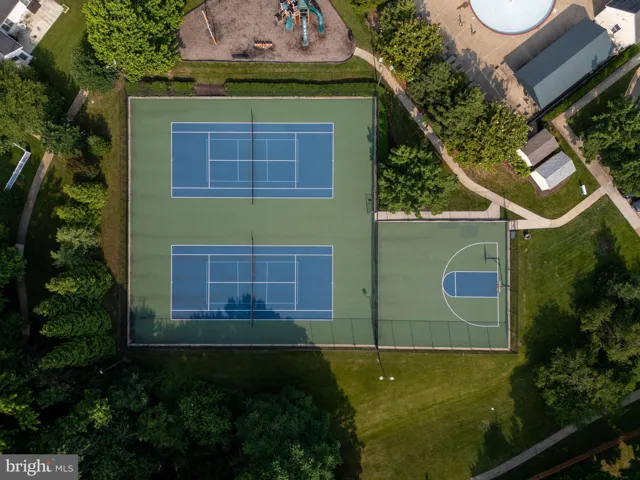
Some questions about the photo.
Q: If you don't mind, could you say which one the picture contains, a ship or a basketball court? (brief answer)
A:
basketball court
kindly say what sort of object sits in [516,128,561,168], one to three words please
shed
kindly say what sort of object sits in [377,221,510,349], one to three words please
basketball court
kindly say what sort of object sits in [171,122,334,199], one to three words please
tennis court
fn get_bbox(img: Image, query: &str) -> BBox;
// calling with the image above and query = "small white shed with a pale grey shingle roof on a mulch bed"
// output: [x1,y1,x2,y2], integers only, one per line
[530,154,574,191]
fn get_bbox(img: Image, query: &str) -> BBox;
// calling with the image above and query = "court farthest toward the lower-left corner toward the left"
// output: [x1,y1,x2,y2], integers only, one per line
[171,244,334,321]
